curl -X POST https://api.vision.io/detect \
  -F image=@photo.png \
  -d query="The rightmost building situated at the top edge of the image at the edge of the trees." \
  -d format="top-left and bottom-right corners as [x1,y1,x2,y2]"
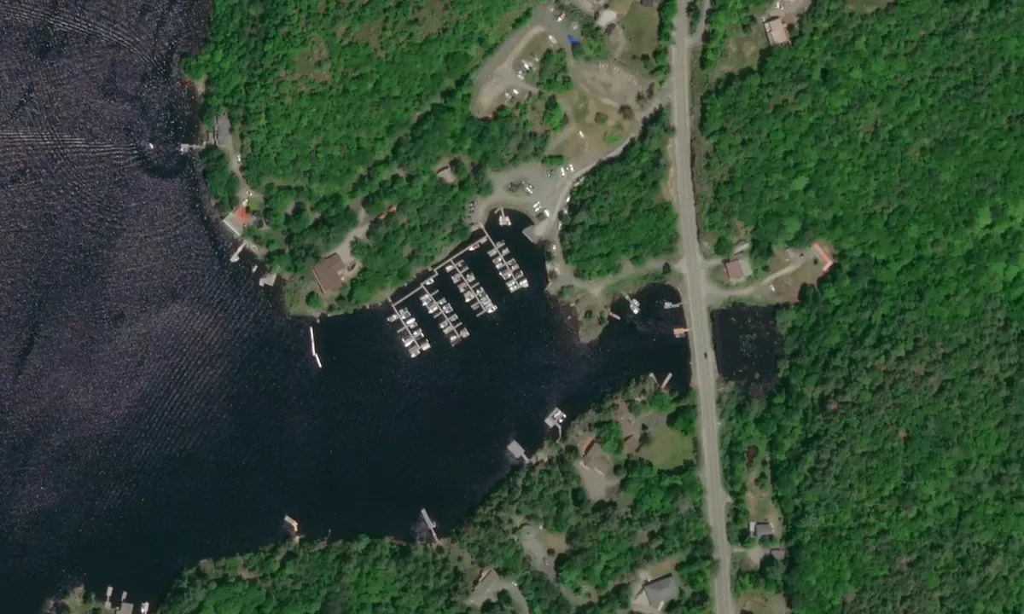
[764,19,786,46]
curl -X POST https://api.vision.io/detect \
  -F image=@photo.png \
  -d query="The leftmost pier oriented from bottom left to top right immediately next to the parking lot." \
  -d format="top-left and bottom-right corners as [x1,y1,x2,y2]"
[388,235,488,307]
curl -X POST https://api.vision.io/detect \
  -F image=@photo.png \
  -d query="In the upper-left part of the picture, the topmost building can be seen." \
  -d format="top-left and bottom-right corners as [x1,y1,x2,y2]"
[208,115,233,144]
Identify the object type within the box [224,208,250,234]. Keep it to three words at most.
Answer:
house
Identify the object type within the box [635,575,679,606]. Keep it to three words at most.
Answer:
house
